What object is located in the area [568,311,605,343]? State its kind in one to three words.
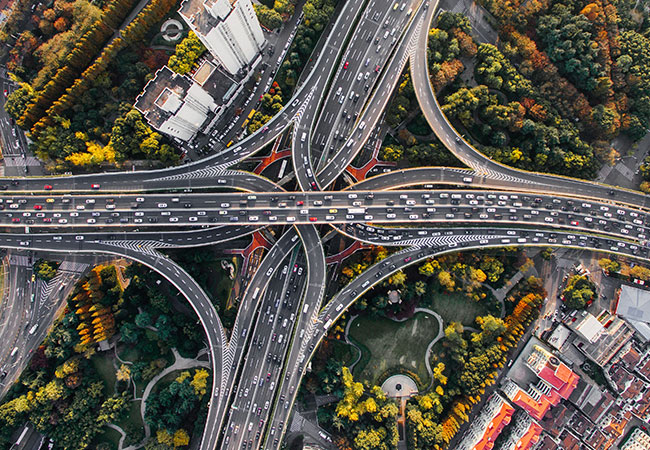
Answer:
building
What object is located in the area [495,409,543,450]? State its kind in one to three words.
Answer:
building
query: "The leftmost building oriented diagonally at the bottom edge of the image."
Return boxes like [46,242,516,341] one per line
[454,390,514,450]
